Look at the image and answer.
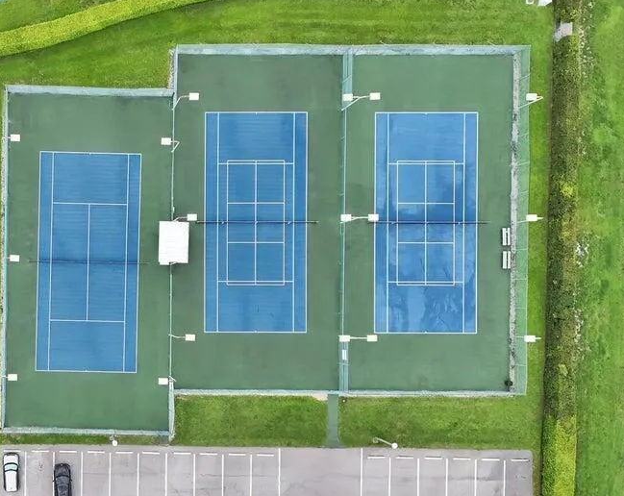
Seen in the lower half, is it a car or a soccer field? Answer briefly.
car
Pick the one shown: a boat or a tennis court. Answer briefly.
tennis court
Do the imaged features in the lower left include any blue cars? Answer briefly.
No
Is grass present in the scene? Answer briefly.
Yes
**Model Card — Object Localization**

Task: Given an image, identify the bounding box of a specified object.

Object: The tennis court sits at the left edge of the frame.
[4,93,173,430]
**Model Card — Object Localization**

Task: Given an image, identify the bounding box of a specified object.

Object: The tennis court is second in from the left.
[171,55,342,390]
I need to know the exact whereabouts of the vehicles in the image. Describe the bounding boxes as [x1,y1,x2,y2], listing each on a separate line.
[1,451,20,493]
[51,462,73,496]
